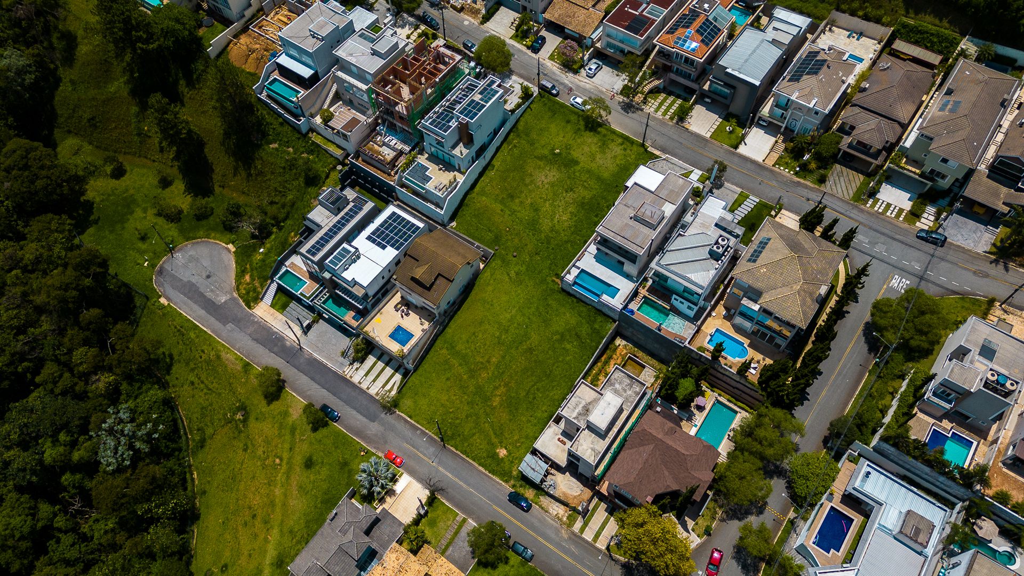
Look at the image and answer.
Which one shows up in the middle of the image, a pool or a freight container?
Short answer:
pool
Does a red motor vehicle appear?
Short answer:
Yes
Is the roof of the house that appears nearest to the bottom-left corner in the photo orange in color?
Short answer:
No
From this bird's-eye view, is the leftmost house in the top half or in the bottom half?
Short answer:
top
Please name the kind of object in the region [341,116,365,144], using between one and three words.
shed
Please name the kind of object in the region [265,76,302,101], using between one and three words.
swimming pool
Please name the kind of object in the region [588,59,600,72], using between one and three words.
vehicle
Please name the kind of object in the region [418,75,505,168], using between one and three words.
house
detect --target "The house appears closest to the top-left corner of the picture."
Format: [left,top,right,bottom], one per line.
[205,0,265,36]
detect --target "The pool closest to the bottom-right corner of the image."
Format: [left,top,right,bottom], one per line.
[950,527,1020,569]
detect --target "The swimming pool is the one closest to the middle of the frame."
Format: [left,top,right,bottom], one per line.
[571,267,621,301]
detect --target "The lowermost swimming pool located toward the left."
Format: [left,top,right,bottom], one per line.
[384,321,419,350]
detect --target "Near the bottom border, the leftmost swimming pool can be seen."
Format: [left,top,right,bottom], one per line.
[808,502,860,559]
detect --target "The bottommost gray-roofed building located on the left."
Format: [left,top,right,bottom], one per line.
[285,481,404,576]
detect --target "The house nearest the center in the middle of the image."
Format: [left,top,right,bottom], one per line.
[392,228,483,319]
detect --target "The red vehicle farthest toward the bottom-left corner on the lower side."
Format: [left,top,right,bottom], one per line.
[381,447,405,467]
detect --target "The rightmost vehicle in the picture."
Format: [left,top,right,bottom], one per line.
[973,202,988,216]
